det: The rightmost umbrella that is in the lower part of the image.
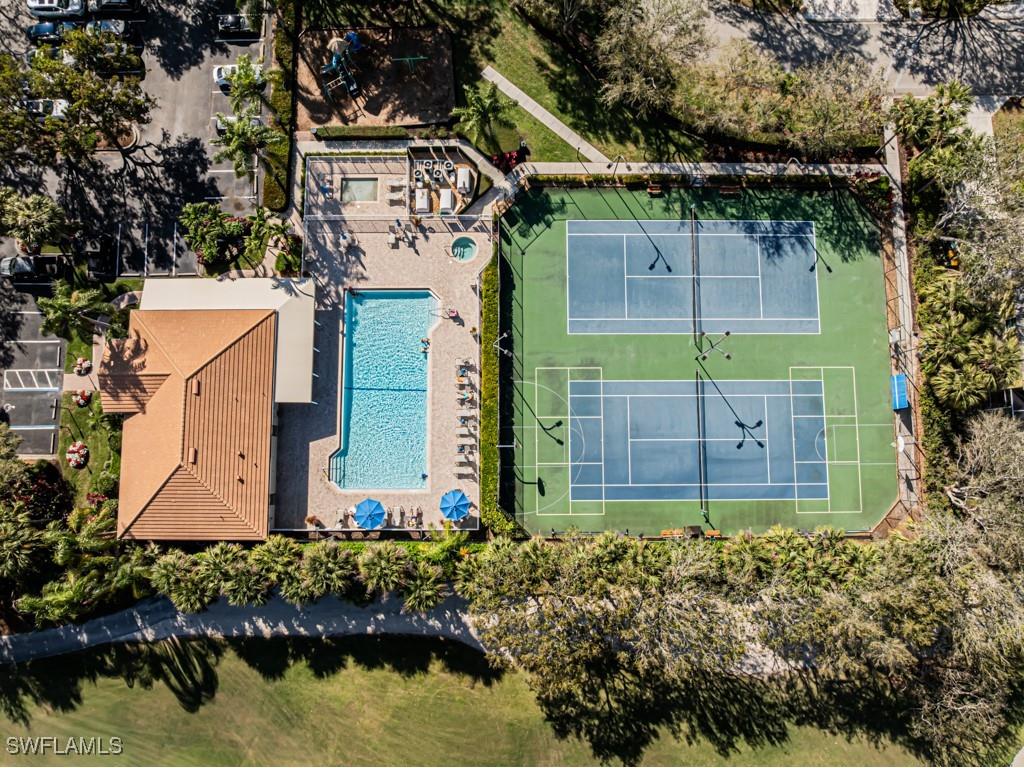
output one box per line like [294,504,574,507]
[440,490,470,520]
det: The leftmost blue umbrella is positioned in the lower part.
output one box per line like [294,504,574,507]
[353,498,386,530]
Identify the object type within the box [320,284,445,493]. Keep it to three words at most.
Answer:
swimming pool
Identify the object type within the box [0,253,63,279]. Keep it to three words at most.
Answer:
vehicle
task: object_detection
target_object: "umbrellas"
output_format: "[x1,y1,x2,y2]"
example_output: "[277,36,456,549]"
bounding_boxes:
[353,498,386,530]
[440,490,470,520]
